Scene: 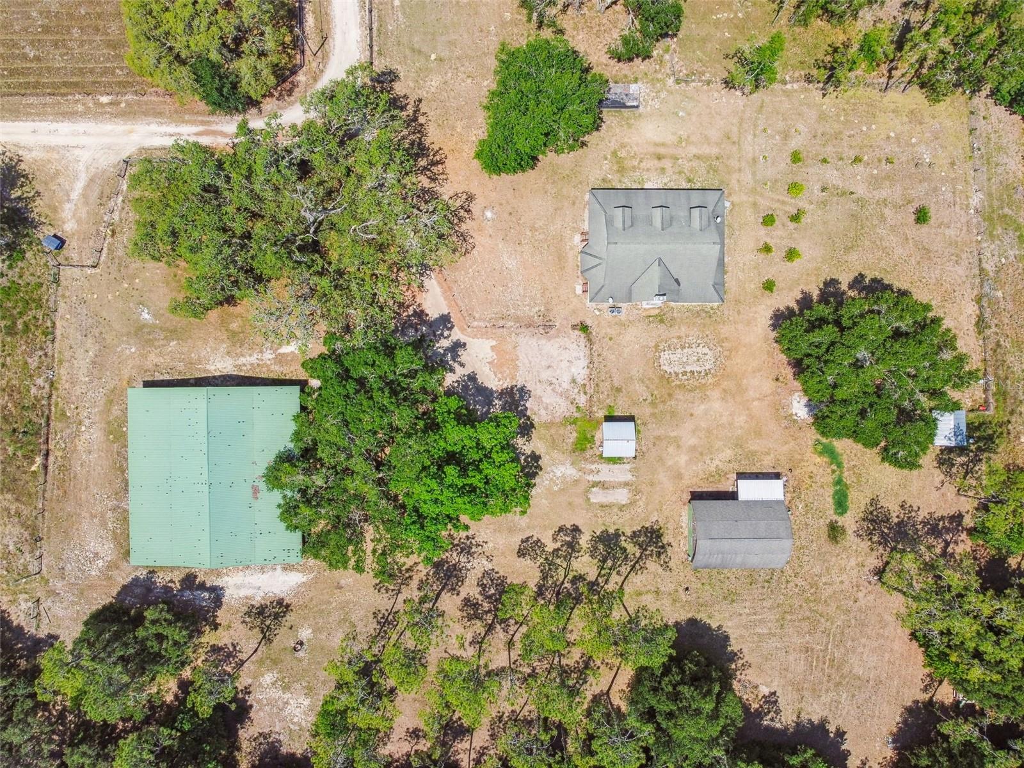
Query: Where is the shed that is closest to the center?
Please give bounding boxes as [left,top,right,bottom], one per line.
[602,422,636,457]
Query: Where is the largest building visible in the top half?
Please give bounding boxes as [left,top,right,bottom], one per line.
[580,189,725,309]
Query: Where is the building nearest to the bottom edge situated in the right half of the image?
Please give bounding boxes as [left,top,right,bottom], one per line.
[689,498,794,568]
